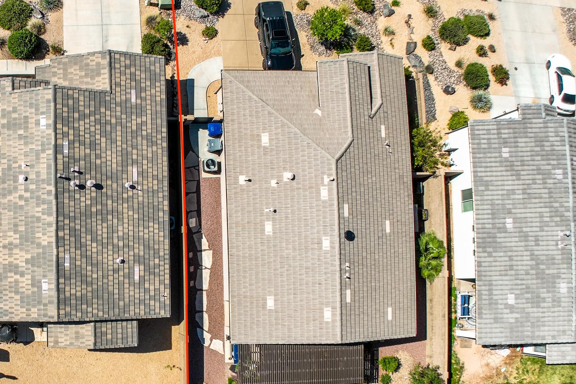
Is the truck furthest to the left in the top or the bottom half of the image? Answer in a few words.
top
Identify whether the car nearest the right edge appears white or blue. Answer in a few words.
white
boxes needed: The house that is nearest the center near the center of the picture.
[218,51,417,345]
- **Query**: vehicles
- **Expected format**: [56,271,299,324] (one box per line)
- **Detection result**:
[252,0,297,70]
[540,52,576,119]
